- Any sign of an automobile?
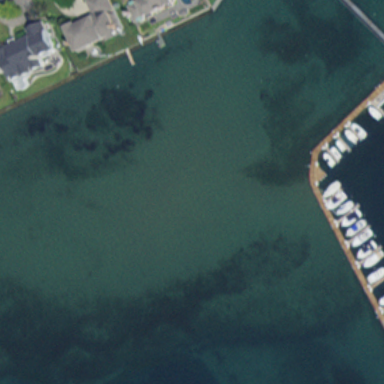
No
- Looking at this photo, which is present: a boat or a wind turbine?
boat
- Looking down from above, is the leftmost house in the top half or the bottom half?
top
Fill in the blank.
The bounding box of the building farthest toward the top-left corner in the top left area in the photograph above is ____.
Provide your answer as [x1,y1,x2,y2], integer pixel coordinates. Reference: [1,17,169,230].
[0,20,49,77]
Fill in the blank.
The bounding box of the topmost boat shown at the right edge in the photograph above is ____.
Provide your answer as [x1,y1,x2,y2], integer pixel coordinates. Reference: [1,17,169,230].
[367,108,383,123]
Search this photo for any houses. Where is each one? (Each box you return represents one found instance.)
[0,20,49,77]
[124,0,172,24]
[62,0,122,52]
